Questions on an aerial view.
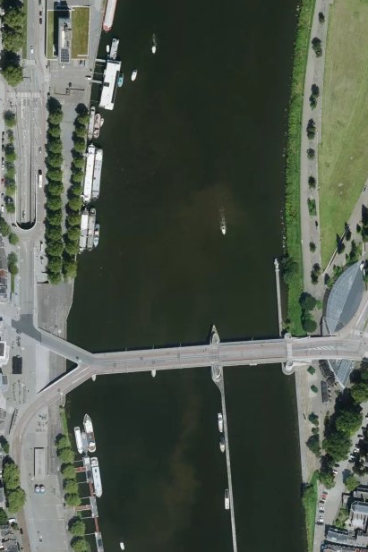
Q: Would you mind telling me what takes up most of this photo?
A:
water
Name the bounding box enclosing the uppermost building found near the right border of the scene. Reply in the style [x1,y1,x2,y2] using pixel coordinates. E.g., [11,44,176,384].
[323,260,364,336]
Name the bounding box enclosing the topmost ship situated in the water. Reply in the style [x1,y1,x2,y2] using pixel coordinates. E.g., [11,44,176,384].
[104,0,117,32]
